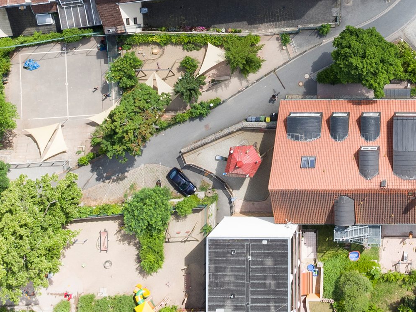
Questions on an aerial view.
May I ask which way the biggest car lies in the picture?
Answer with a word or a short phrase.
diagonally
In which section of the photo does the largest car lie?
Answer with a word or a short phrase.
center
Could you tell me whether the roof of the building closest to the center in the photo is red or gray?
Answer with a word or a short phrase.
red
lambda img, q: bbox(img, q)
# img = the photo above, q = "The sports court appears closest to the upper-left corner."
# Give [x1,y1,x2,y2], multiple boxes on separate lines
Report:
[11,34,110,123]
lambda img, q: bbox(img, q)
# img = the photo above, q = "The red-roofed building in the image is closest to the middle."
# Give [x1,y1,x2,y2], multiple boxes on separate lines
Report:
[215,144,262,178]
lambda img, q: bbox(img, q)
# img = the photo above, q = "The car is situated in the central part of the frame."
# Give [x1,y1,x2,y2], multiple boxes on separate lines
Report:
[170,166,193,193]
